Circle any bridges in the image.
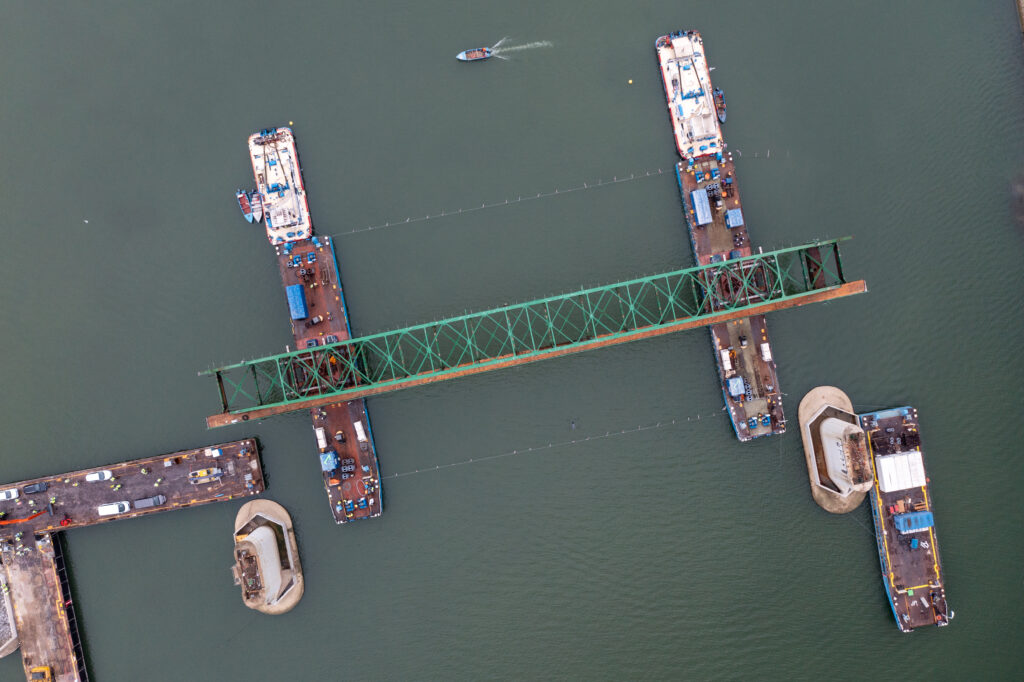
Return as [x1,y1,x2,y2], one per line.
[197,234,868,430]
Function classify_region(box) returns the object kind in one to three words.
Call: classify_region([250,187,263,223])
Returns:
boat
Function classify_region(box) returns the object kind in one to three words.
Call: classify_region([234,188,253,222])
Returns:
boat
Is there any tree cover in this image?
No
